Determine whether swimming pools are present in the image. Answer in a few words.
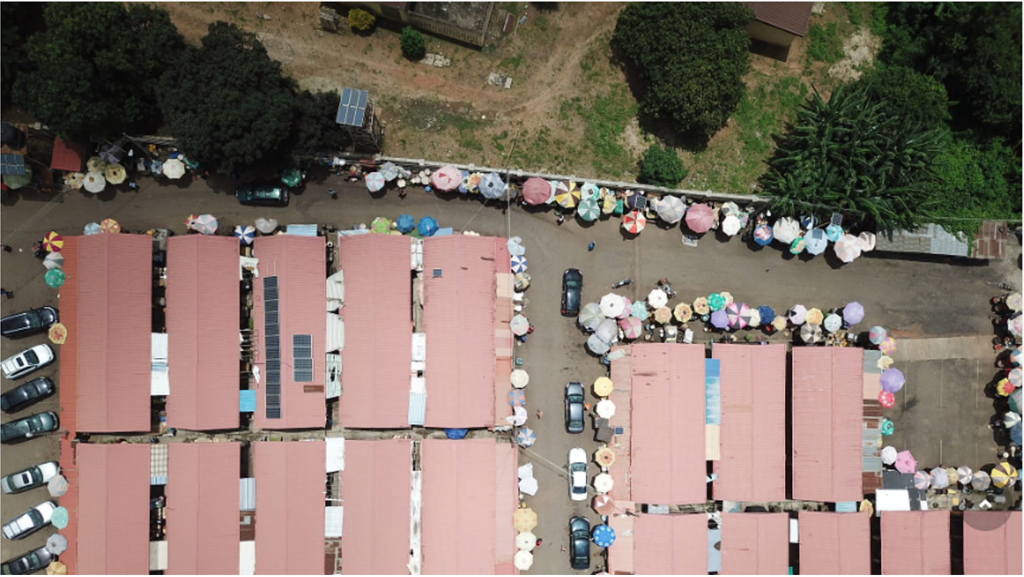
No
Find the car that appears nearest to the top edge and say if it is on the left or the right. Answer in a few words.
left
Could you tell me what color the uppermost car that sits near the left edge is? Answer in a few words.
black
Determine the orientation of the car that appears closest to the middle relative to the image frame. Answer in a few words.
from top to bottom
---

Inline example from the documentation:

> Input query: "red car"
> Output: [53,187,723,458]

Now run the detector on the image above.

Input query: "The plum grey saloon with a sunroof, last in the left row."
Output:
[0,539,55,574]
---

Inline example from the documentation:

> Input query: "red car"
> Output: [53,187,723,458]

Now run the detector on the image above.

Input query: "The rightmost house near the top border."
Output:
[725,0,816,51]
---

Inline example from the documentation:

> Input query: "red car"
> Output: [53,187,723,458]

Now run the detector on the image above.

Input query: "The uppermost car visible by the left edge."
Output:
[0,305,57,338]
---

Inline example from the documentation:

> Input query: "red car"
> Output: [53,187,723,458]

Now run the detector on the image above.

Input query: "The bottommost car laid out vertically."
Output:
[568,515,593,571]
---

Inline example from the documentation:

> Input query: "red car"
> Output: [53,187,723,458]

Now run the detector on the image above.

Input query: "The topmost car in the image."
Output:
[235,182,291,209]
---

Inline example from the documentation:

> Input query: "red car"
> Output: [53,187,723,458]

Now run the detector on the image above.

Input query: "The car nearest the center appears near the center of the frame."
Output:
[560,267,585,318]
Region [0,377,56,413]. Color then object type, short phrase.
black car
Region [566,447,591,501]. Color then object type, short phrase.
white car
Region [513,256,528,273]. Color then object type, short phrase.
white umbrella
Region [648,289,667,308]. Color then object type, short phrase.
white umbrella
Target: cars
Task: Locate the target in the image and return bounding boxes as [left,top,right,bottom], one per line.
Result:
[563,381,588,433]
[0,411,59,442]
[235,182,291,209]
[560,267,585,318]
[0,377,56,413]
[0,502,57,540]
[0,539,55,574]
[0,343,57,379]
[0,305,57,338]
[566,447,591,501]
[0,462,60,493]
[568,515,593,571]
